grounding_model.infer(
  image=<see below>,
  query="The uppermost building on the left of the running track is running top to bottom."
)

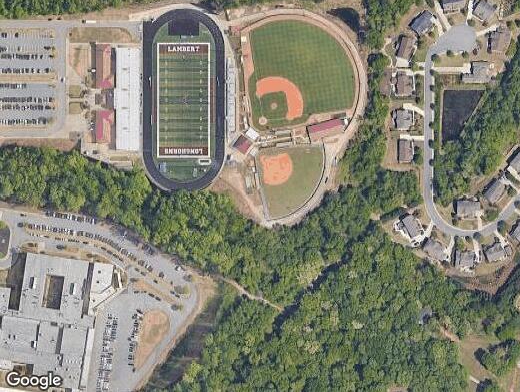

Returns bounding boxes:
[95,44,110,89]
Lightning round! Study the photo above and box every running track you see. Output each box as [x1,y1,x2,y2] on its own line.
[141,10,228,193]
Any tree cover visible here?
Yes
